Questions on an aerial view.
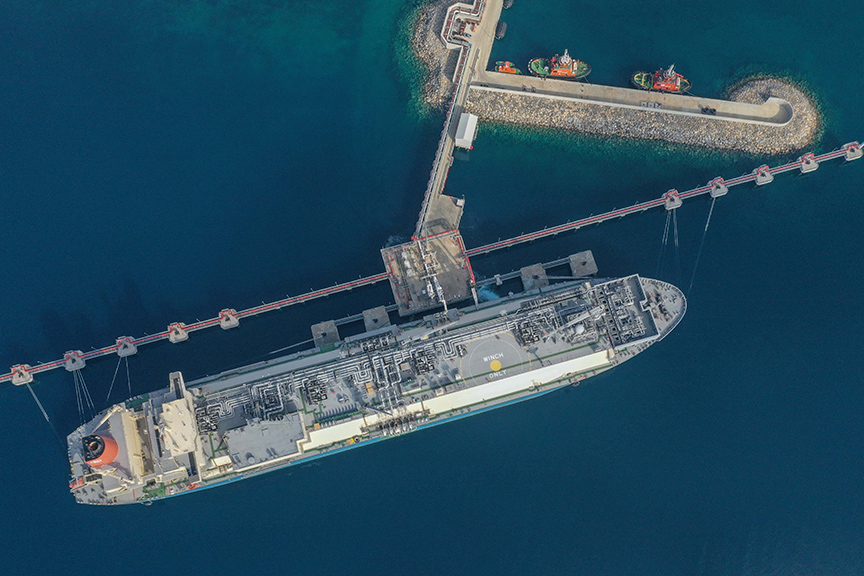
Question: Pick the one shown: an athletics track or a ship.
ship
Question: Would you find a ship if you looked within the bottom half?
Yes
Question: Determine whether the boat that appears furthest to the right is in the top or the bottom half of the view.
top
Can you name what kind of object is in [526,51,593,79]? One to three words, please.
boat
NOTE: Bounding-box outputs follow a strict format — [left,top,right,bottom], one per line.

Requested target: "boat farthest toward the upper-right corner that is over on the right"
[629,67,694,94]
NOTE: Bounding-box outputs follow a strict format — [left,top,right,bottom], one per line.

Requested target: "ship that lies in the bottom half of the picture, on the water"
[68,275,688,503]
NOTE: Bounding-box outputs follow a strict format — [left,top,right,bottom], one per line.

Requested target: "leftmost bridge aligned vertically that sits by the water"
[410,83,471,242]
